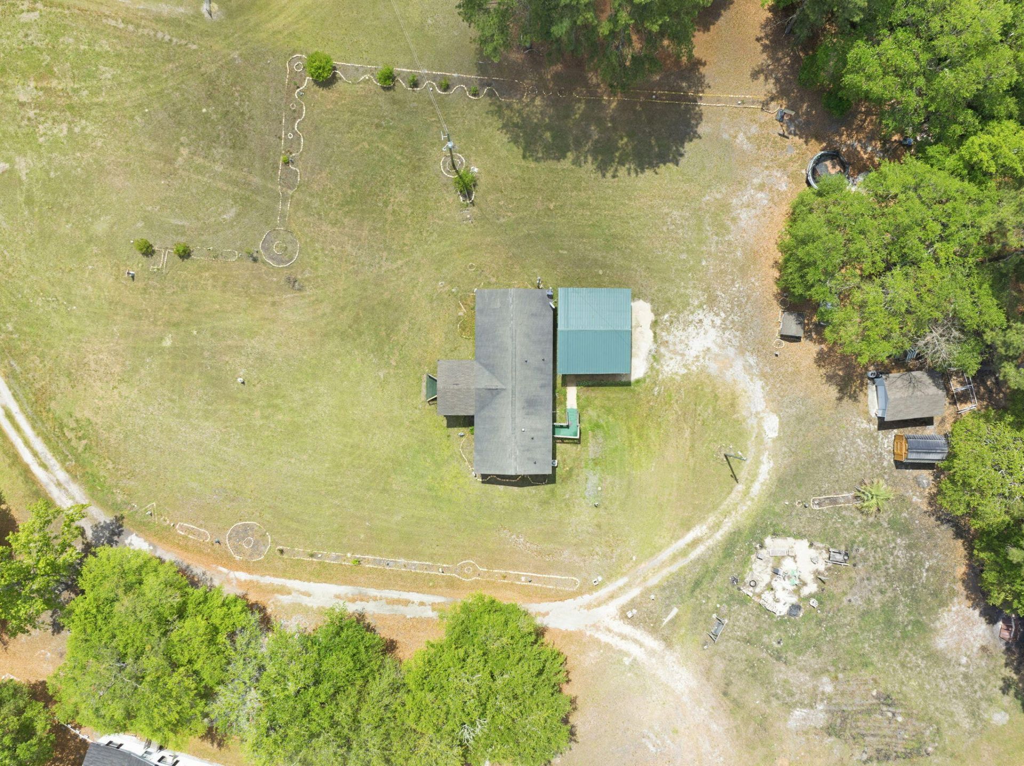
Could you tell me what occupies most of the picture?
grass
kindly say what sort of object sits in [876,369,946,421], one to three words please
shed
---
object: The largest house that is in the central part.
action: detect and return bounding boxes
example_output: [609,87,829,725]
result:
[426,287,552,476]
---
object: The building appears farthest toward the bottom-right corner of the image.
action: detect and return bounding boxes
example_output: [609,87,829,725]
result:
[895,435,952,464]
